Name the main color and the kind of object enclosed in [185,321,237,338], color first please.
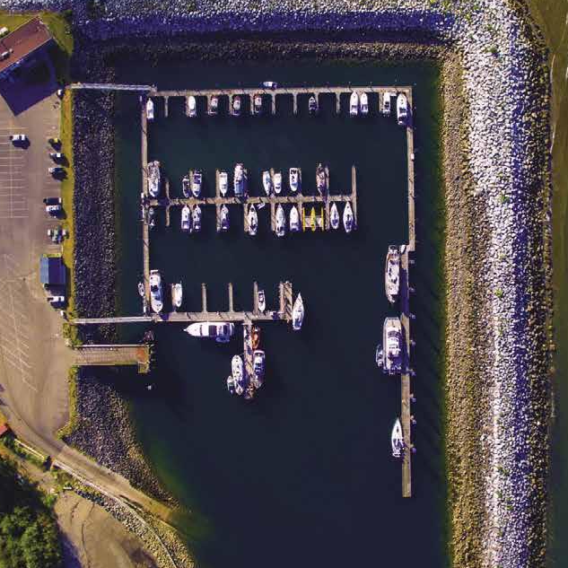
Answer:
white boat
